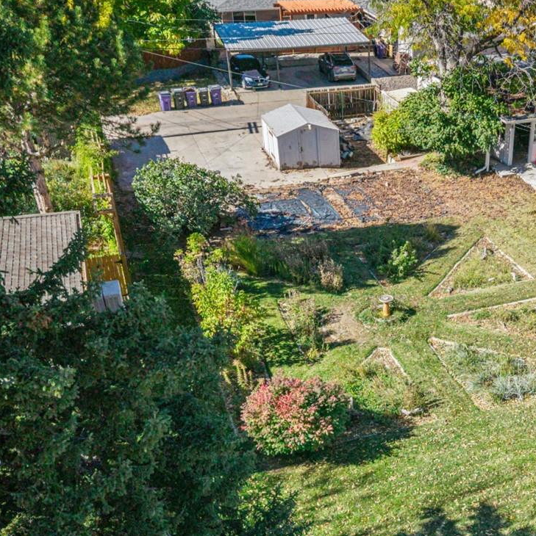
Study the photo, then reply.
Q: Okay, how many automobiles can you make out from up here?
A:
2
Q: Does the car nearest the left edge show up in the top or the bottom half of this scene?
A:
top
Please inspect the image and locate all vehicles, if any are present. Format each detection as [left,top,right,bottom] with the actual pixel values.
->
[236,55,271,87]
[321,52,358,79]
